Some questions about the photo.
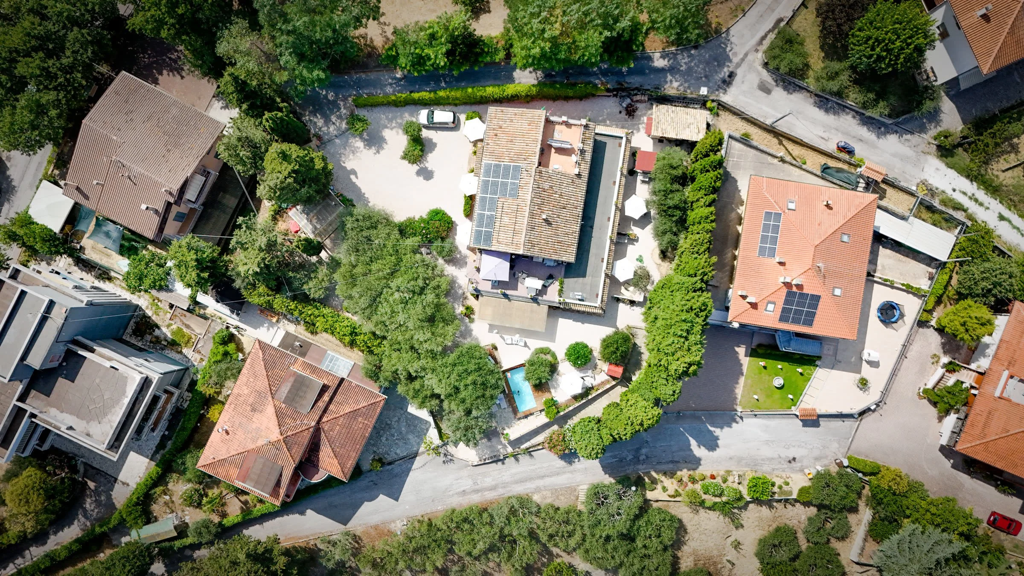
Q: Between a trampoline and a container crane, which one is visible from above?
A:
trampoline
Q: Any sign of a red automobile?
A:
Yes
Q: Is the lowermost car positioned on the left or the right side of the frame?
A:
right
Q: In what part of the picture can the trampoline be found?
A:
right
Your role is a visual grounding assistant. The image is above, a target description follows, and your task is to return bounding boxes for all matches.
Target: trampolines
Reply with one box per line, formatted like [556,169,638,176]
[877,299,914,326]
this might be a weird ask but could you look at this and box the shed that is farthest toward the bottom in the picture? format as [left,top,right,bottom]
[131,513,182,538]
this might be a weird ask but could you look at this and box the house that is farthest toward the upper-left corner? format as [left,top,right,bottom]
[55,71,242,242]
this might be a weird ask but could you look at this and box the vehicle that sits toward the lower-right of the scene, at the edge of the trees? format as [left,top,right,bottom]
[988,513,1024,536]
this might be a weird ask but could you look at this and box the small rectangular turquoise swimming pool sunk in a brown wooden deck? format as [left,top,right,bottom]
[502,363,553,419]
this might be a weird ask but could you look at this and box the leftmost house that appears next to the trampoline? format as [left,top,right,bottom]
[718,174,879,355]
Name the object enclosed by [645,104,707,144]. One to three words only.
shed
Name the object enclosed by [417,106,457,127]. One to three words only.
car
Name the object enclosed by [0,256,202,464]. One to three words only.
building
